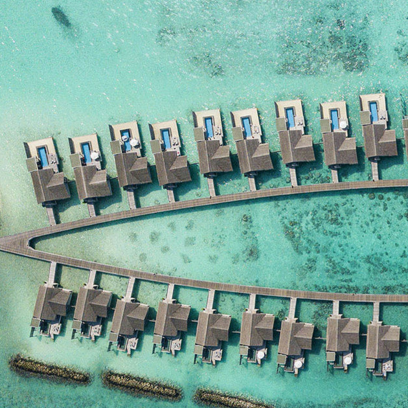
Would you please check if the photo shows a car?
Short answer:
No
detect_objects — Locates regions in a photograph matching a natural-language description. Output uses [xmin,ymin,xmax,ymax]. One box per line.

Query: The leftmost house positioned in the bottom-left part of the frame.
[27,278,73,344]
